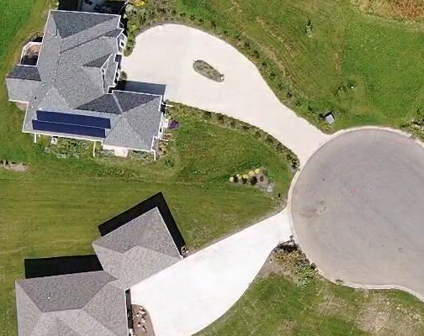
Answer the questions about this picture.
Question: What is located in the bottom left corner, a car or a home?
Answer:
home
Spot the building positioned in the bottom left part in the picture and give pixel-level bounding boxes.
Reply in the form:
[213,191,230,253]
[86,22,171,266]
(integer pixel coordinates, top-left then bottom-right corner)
[15,207,187,336]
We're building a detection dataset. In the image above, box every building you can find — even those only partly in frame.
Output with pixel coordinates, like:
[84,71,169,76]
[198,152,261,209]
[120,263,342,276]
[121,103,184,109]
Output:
[15,207,187,336]
[7,9,170,161]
